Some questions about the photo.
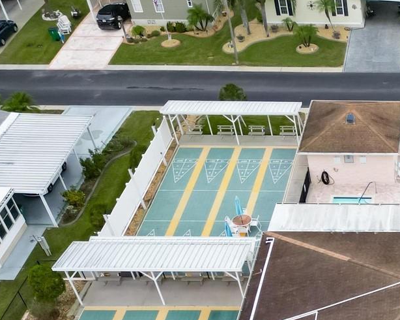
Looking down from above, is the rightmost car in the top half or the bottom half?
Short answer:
top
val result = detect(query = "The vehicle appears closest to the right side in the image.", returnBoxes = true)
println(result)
[97,0,127,24]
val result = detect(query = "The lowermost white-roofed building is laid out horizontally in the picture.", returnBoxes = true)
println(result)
[51,238,253,305]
